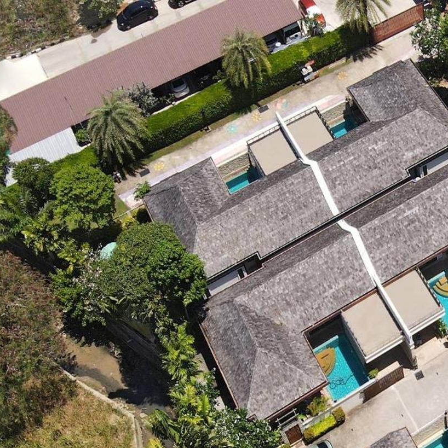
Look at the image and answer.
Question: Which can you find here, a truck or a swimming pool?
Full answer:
Visible in the photo is a swimming pool.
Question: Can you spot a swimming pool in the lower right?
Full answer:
Yes, a swimming pool appears in the lower right.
